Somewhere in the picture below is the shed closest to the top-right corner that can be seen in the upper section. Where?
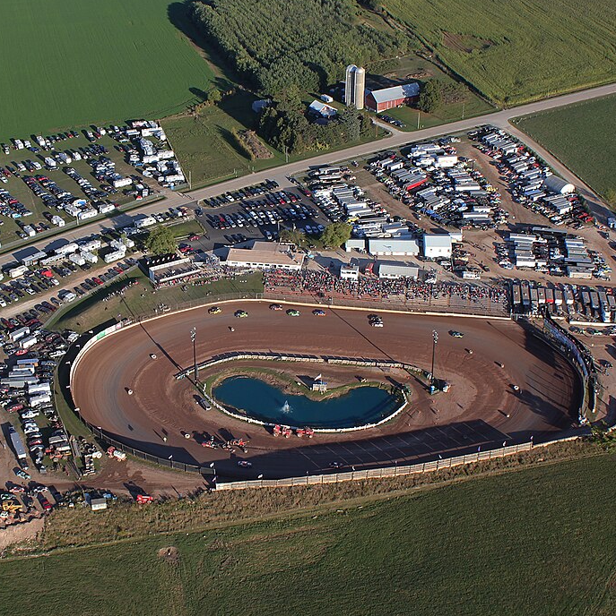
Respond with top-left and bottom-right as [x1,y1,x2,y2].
[543,168,578,192]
